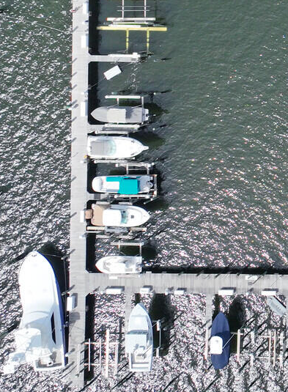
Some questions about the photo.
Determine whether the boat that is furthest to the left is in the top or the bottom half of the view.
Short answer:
bottom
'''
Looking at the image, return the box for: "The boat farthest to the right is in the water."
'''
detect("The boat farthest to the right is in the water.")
[267,295,285,314]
